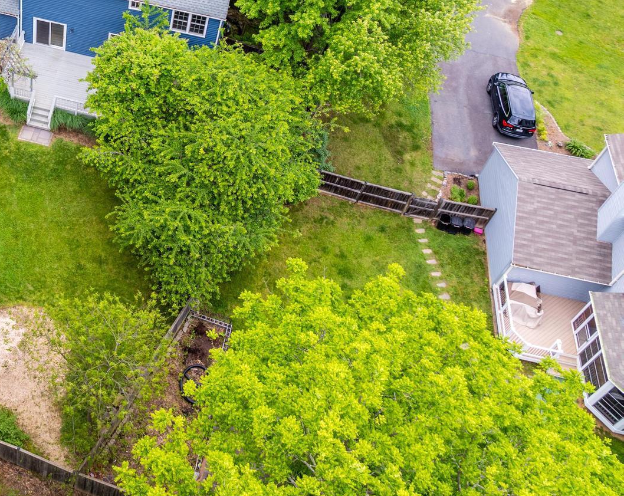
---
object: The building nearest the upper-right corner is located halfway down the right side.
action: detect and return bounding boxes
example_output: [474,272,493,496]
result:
[477,133,624,298]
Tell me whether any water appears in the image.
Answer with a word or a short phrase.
No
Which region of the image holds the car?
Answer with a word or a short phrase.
top right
